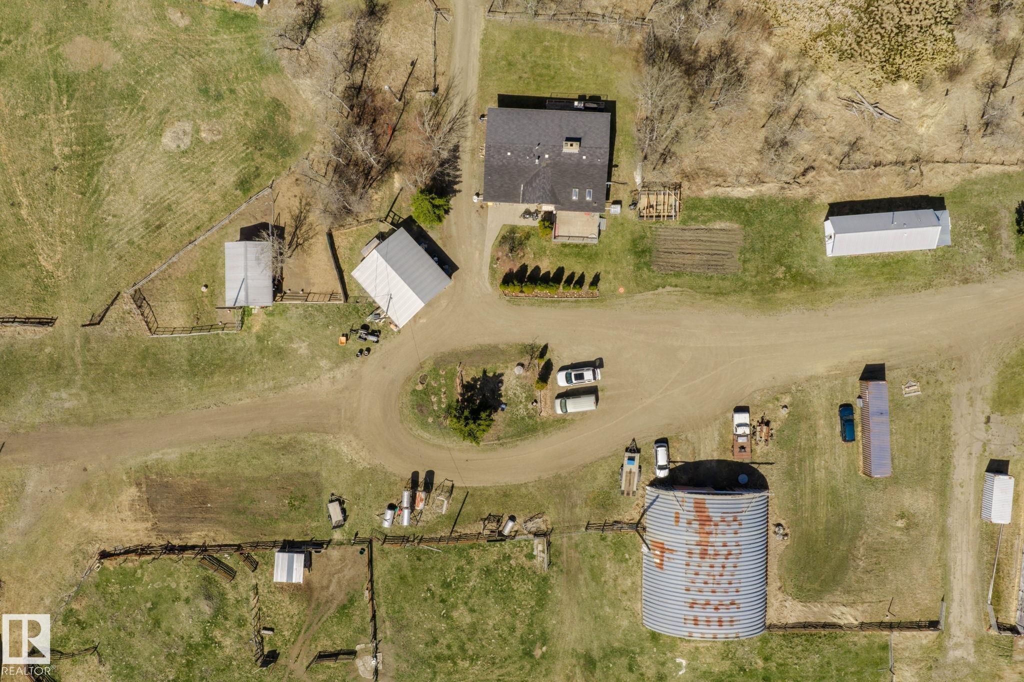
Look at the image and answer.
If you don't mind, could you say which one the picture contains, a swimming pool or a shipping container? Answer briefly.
shipping container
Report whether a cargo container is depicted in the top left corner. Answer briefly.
No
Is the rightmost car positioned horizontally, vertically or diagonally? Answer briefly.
vertically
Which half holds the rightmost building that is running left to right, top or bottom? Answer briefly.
top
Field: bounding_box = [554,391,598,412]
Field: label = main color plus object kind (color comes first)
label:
white vehicle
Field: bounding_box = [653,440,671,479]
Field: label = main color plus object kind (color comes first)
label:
white car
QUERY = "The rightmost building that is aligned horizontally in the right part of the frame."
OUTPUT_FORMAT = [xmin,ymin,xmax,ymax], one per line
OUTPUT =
[824,209,942,256]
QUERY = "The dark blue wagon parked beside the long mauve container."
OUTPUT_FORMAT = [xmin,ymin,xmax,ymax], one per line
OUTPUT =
[838,404,858,443]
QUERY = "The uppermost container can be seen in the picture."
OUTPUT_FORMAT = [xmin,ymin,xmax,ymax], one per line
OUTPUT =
[859,380,892,478]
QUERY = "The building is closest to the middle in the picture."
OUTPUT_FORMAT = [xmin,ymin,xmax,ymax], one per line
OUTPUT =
[352,227,451,328]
